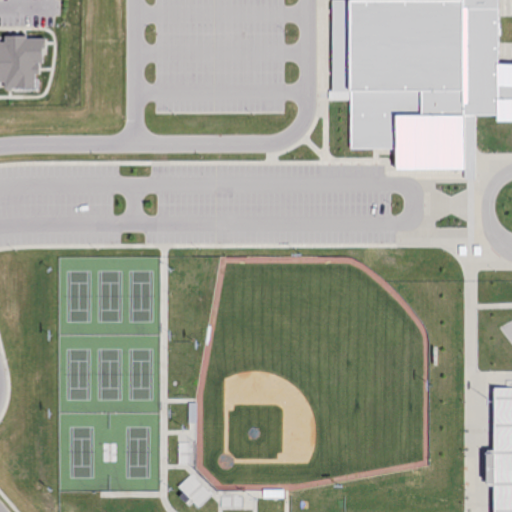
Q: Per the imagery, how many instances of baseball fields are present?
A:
1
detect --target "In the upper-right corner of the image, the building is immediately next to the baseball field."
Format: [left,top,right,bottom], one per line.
[329,0,512,172]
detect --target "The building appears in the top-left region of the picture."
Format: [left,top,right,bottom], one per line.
[0,37,45,92]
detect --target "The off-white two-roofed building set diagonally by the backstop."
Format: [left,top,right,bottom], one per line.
[177,474,212,508]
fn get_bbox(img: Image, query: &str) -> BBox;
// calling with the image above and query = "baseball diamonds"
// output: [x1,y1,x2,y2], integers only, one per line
[196,257,429,490]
